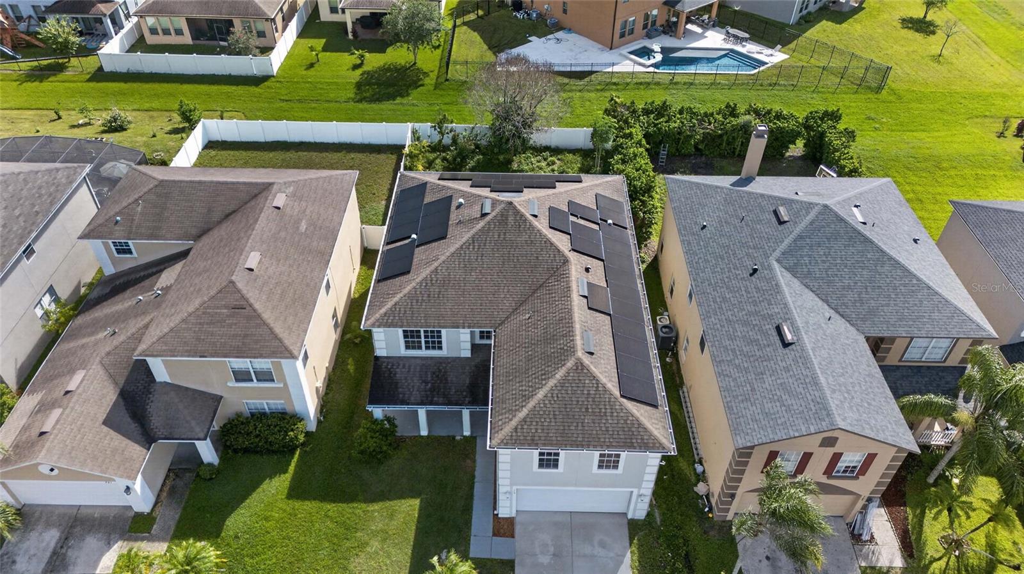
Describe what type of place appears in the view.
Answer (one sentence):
It's a residential area.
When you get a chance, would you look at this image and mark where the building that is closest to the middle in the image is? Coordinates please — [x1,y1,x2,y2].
[360,170,679,520]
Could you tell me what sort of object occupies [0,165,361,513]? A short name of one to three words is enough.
house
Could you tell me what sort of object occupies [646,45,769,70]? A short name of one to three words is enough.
swimming pool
